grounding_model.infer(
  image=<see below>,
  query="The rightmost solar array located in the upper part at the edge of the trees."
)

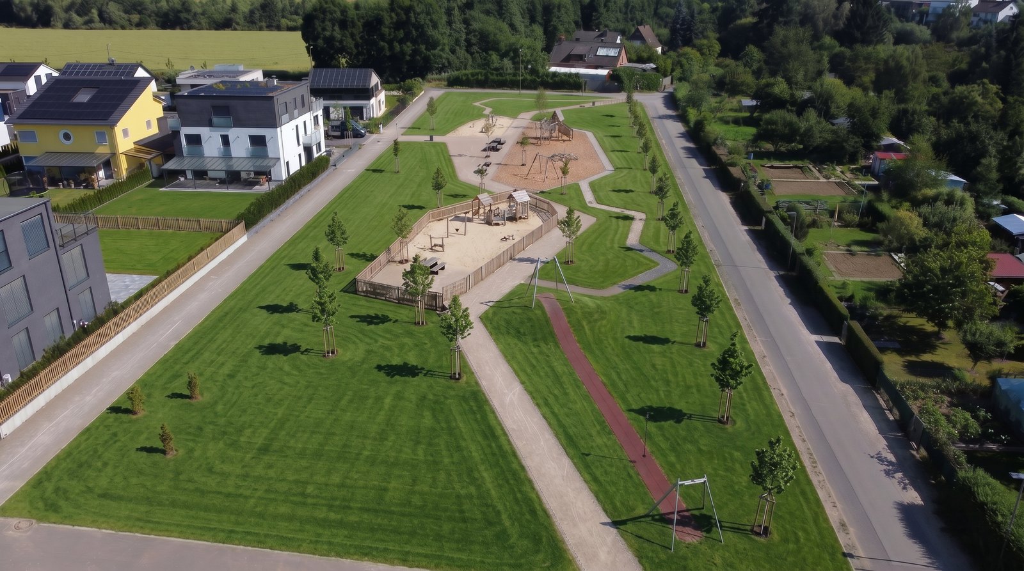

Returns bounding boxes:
[310,66,369,87]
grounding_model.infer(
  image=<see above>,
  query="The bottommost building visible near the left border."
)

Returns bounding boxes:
[0,195,113,385]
